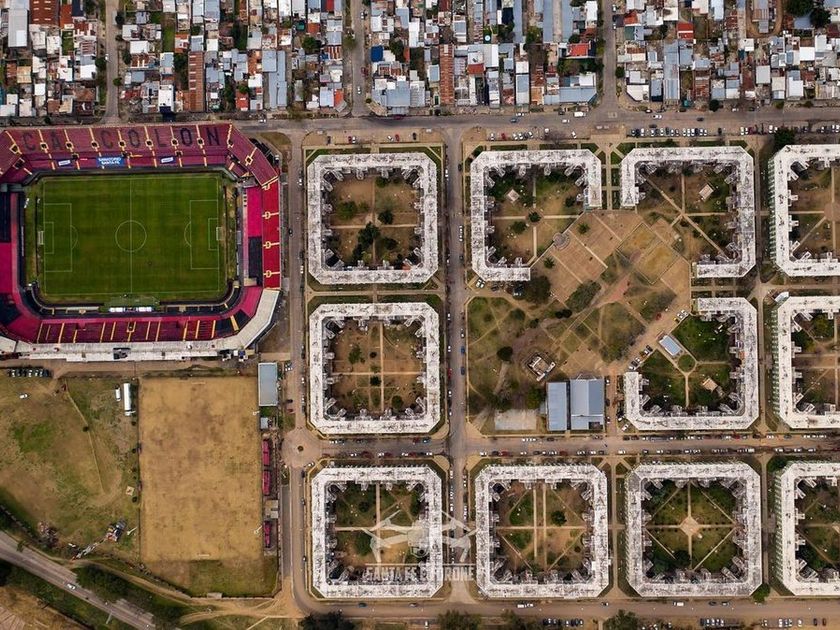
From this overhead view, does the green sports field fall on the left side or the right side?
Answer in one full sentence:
The green sports field appears in the left half of the scene.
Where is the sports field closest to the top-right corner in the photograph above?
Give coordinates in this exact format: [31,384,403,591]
[616,222,680,284]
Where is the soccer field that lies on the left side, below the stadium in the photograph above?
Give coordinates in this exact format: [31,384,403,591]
[140,377,262,561]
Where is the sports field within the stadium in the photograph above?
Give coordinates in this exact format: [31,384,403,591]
[37,173,227,302]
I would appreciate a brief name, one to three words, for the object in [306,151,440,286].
building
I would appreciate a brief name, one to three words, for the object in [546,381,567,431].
building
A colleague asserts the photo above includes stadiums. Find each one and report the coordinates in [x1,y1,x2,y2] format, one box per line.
[0,123,290,361]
